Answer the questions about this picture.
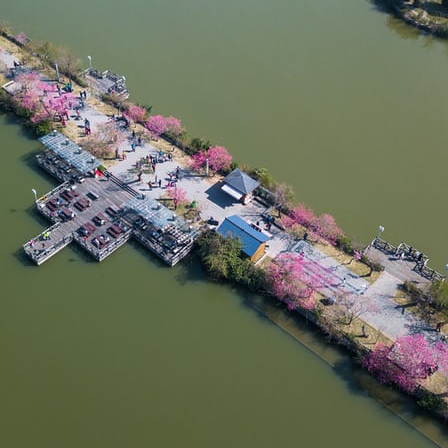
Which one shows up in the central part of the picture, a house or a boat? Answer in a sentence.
Visible in the central part of the picture is a house.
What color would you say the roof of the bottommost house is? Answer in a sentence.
The roof over the bottommost house appears blue.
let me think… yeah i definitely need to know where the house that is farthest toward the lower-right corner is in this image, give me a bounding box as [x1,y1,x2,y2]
[217,216,279,262]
